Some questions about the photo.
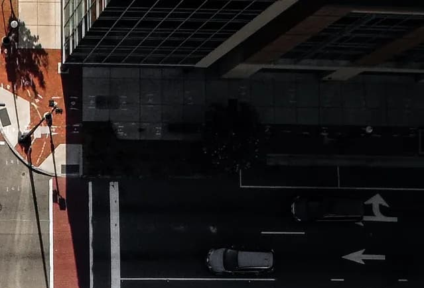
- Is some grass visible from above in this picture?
No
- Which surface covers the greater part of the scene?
paved ground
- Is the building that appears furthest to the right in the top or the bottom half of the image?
top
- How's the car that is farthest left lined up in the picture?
horizontally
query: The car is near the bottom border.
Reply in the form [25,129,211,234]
[205,243,276,278]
